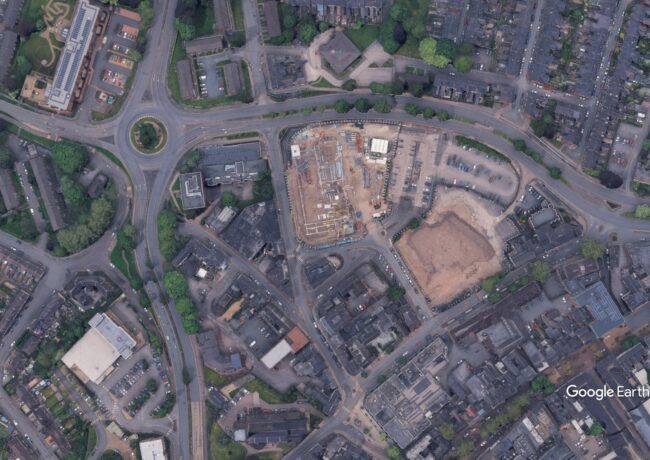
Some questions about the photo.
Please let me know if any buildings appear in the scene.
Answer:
Yes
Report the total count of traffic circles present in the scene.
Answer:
1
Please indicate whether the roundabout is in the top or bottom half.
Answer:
top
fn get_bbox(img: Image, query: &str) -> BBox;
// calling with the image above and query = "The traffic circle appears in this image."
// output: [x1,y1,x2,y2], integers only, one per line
[119,105,180,166]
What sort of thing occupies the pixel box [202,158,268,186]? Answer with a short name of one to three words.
building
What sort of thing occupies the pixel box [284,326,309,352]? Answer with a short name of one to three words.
building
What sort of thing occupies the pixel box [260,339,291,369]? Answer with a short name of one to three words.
shed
